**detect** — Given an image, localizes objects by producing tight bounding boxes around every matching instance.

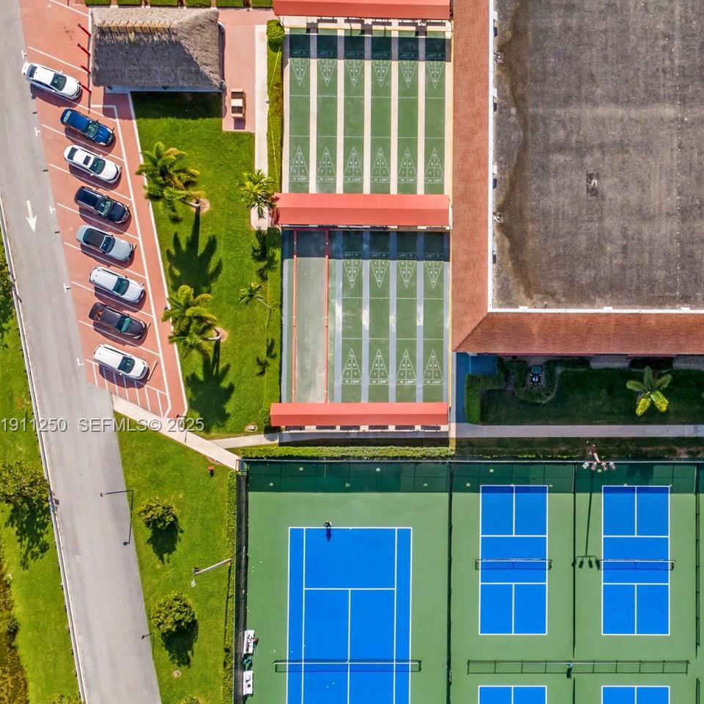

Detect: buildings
[92,8,229,94]
[451,0,704,356]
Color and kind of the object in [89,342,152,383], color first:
white car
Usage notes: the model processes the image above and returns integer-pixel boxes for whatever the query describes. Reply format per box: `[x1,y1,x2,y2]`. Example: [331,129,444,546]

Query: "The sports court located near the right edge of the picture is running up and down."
[601,486,671,635]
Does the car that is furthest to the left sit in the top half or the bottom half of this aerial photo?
top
